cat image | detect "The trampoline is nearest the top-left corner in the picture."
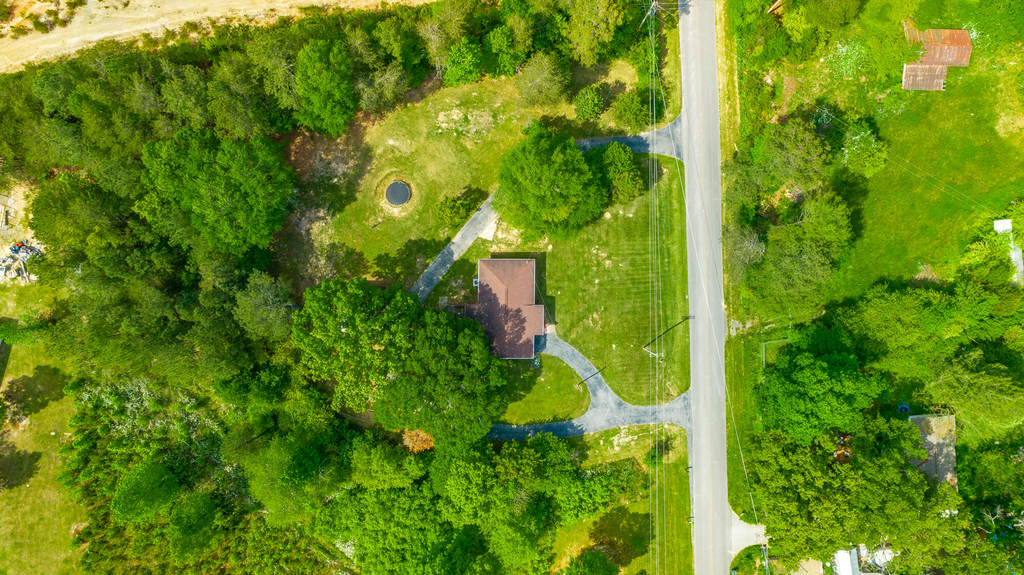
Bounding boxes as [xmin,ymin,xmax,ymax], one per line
[386,181,411,206]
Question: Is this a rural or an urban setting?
rural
